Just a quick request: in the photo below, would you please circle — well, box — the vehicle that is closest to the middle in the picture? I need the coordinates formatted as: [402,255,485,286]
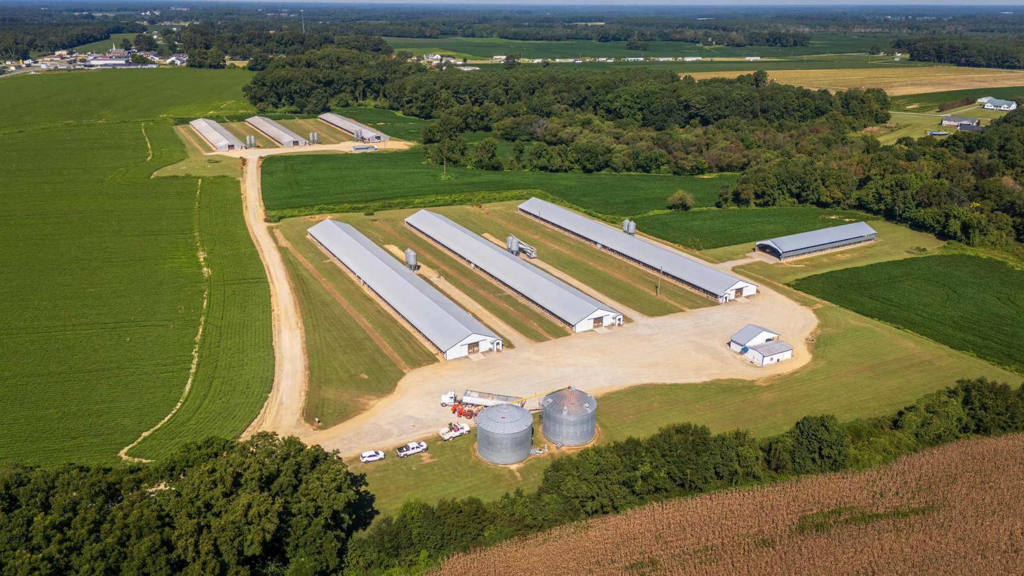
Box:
[515,232,538,256]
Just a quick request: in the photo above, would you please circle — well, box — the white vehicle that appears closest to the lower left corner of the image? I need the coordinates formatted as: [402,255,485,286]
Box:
[359,447,388,461]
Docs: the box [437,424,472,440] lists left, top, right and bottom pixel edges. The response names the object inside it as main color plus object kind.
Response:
white vehicle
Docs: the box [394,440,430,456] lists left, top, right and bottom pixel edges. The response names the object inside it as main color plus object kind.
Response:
white vehicle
